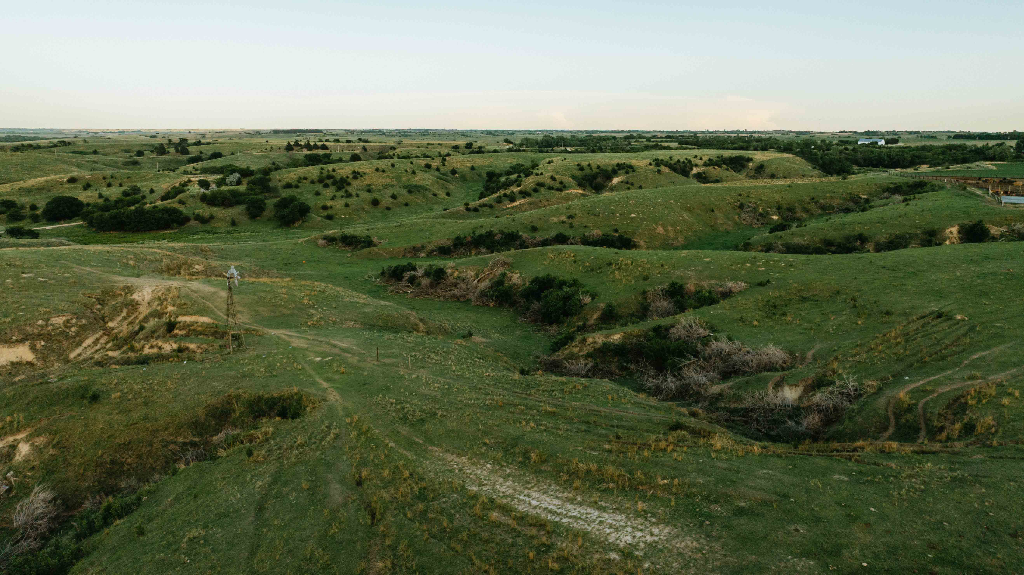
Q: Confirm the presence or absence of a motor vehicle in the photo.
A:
No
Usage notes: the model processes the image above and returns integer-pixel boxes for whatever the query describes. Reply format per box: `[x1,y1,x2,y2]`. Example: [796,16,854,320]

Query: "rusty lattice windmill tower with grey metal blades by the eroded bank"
[221,267,243,351]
